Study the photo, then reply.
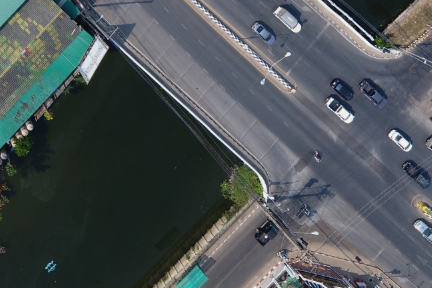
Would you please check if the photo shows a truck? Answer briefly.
Yes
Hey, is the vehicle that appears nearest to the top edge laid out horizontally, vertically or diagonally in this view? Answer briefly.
diagonally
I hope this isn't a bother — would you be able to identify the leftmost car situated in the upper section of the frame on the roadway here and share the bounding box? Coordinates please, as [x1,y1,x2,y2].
[250,20,275,44]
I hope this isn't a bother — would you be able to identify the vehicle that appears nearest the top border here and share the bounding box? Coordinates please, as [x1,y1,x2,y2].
[272,6,300,31]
